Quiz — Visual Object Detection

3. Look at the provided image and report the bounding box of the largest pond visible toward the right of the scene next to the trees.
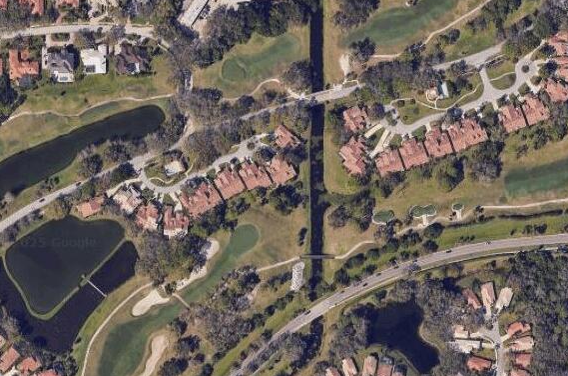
[363,298,440,373]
